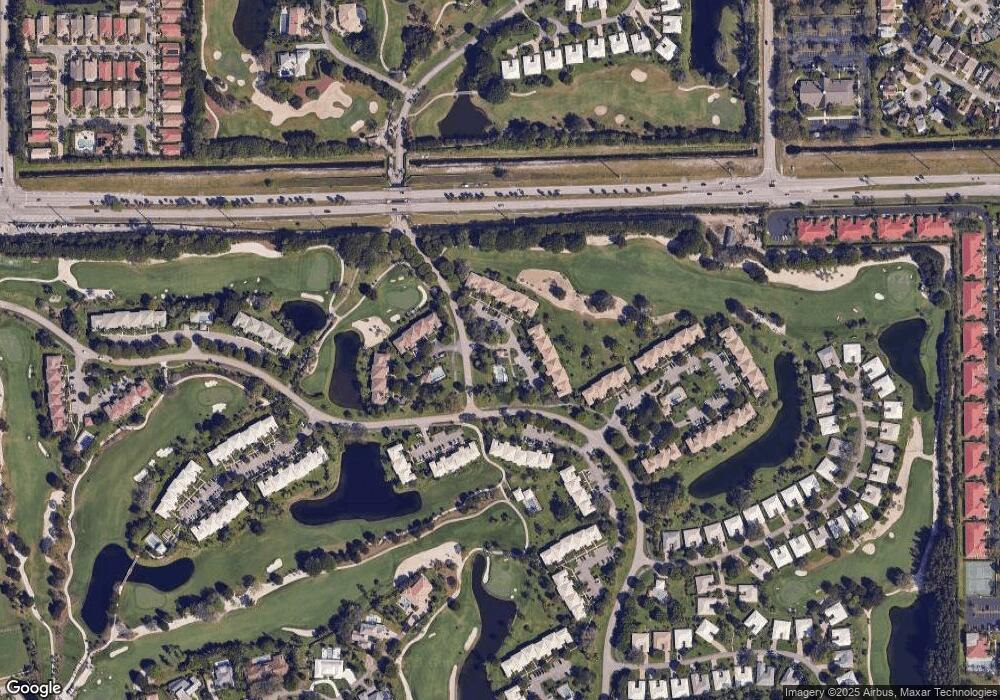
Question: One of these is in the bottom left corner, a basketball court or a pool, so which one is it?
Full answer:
It is a pool that can be seen in the bottom left corner.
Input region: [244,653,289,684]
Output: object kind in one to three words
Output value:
house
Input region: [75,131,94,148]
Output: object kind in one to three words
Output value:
swimming pool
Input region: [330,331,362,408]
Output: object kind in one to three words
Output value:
pond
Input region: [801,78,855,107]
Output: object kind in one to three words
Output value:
building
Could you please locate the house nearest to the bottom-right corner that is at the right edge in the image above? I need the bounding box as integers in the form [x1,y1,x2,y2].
[971,638,994,657]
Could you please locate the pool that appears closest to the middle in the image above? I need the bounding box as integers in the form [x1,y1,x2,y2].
[493,365,509,383]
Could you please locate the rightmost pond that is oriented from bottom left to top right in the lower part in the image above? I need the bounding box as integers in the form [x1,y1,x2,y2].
[689,352,800,497]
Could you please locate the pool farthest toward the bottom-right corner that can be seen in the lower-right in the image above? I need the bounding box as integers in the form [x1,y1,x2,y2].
[966,658,992,672]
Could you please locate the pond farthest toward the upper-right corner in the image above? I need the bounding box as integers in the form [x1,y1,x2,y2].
[688,0,739,75]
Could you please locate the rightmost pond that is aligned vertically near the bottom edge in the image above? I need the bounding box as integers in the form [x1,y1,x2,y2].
[888,594,936,700]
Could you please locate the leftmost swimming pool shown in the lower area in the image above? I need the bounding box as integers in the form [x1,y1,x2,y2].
[76,431,96,451]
